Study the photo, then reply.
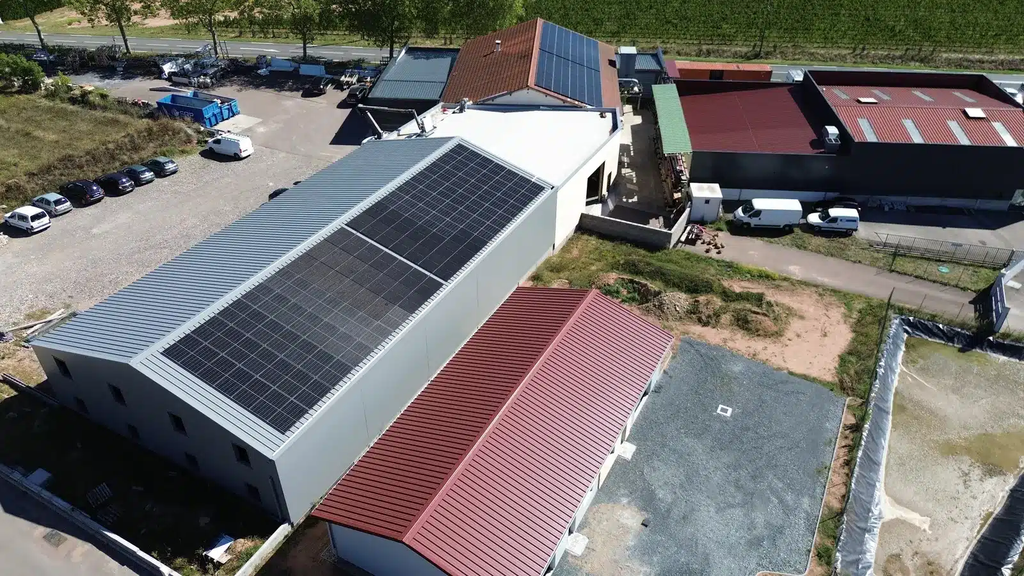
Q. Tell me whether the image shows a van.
Yes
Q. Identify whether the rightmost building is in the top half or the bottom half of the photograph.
top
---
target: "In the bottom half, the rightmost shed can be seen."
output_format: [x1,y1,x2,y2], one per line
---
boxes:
[306,287,675,576]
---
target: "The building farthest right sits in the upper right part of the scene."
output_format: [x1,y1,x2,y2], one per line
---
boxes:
[801,71,1024,207]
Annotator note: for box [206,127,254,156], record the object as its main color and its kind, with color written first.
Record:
white van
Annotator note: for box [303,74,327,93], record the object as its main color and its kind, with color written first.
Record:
black car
